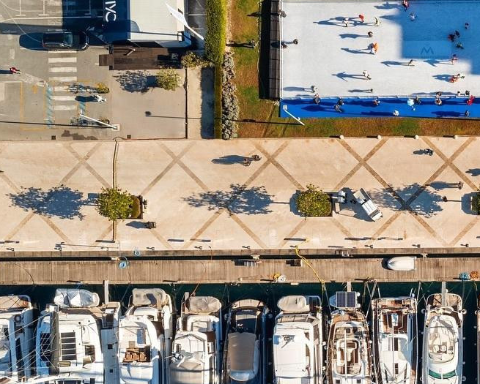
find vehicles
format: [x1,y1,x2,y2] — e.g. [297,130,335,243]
[351,189,377,220]
[37,26,87,50]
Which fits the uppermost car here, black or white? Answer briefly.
black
